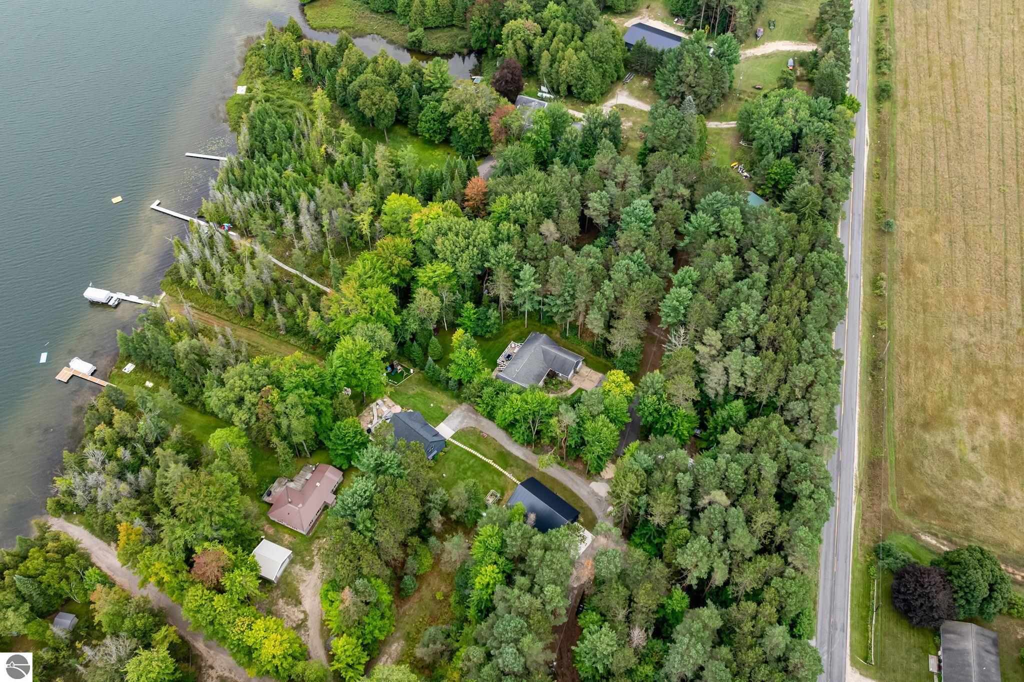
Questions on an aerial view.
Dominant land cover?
trees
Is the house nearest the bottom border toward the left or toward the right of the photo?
right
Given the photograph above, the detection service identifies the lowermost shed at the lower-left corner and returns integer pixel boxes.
[52,611,79,633]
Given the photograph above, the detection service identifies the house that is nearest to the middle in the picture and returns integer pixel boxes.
[498,331,583,387]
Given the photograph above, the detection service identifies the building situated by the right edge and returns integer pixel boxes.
[937,625,1002,682]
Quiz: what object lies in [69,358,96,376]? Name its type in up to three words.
boat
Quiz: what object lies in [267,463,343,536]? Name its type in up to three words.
house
